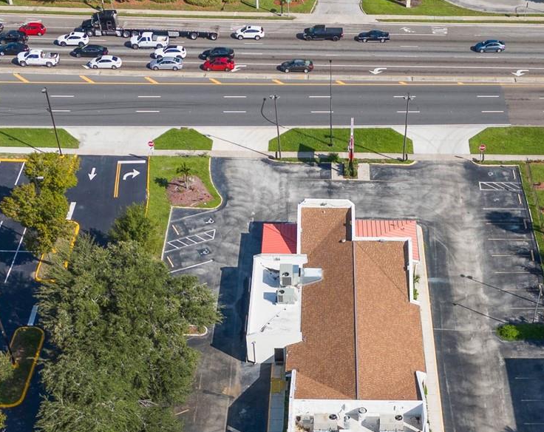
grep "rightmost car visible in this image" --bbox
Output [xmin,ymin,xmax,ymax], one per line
[472,38,506,52]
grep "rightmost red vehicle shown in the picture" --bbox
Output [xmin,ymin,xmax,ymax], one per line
[202,57,236,70]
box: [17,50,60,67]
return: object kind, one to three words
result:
vehicle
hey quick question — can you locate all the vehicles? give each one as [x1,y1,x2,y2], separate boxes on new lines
[305,23,343,40]
[152,43,185,58]
[149,55,184,69]
[472,38,506,52]
[202,57,236,70]
[88,54,122,69]
[357,29,389,42]
[278,58,313,73]
[58,31,89,45]
[17,50,60,67]
[129,31,170,49]
[76,2,134,36]
[200,45,233,59]
[232,23,264,39]
[73,43,107,57]
[0,40,30,54]
[0,28,29,44]
[20,21,49,35]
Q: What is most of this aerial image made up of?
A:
paved ground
